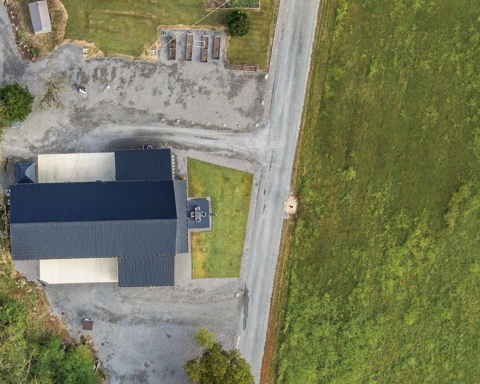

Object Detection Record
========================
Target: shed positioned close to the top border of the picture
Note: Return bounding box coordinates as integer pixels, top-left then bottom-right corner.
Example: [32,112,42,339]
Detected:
[29,0,52,36]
